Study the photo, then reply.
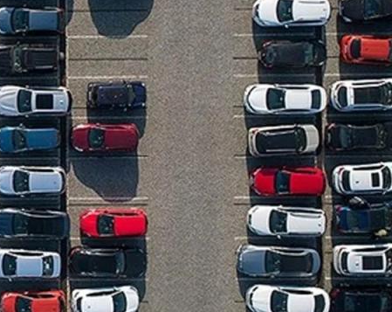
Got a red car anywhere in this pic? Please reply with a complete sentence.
Yes, this view includes a red car.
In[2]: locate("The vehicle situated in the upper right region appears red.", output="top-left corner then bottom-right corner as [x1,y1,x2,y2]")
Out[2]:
[337,33,392,67]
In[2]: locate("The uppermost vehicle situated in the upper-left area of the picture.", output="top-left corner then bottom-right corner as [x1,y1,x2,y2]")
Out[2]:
[0,3,60,37]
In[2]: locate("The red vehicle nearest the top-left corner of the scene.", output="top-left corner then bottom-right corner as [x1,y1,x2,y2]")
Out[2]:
[68,121,139,156]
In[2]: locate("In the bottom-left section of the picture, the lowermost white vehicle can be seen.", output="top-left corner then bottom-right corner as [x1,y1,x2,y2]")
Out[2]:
[71,284,138,312]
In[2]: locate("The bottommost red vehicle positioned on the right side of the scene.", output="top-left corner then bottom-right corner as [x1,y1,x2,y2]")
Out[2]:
[249,165,324,200]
